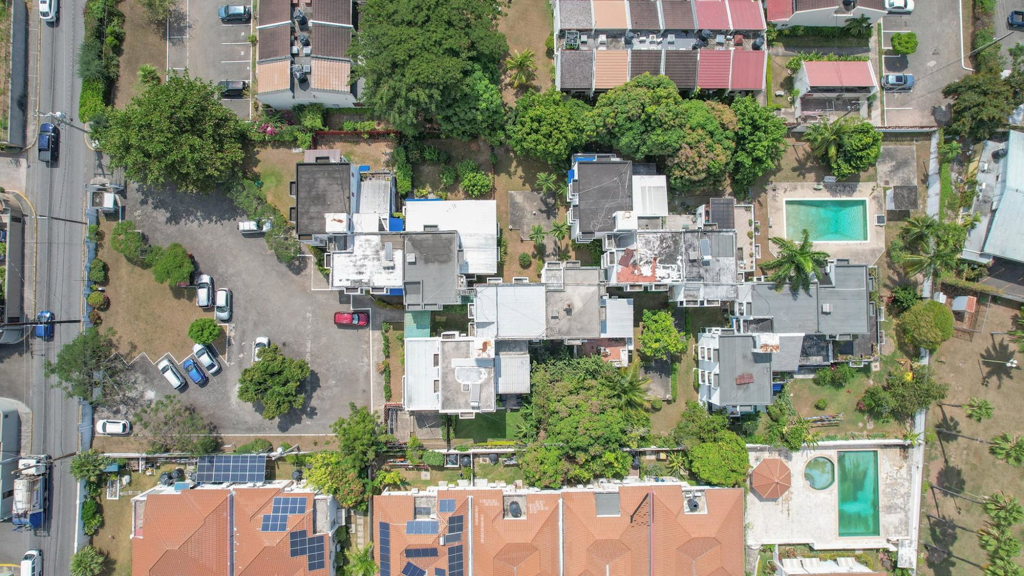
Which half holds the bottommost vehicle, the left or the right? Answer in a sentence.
The bottommost vehicle is on the left side of the image.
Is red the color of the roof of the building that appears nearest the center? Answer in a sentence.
No, the roof of the building that appears nearest the center is actually white.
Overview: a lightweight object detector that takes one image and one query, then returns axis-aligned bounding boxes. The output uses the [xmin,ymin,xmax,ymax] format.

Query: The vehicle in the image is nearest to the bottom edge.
[20,548,42,576]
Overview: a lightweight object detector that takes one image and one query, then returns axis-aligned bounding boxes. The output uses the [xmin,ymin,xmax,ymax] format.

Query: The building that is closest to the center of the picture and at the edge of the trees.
[468,277,545,338]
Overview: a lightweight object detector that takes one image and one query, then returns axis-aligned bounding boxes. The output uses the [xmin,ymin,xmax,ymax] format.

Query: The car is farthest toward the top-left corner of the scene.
[40,0,60,24]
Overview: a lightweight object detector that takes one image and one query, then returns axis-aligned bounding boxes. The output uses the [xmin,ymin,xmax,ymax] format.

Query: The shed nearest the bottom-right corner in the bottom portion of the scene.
[894,538,913,569]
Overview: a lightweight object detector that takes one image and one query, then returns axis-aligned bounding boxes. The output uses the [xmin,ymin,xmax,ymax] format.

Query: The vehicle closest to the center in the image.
[334,310,370,327]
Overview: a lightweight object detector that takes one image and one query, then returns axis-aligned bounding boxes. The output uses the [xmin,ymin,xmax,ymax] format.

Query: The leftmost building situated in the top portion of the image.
[90,182,128,222]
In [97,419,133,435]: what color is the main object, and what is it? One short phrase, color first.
white car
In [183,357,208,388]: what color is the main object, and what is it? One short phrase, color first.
blue car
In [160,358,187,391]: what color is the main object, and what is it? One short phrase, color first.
white car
